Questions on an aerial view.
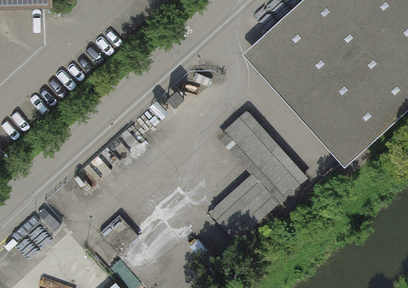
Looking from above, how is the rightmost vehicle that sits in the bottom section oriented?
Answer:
at an angle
